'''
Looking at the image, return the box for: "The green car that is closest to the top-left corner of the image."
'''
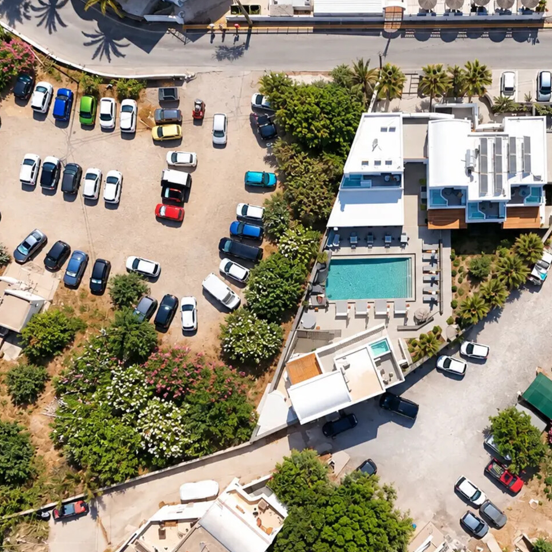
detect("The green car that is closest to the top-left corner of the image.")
[78,95,97,126]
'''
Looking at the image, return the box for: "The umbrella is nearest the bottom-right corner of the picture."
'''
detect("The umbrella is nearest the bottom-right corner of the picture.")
[443,327,457,341]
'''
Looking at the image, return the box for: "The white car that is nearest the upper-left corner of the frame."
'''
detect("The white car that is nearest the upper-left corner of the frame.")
[30,81,54,113]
